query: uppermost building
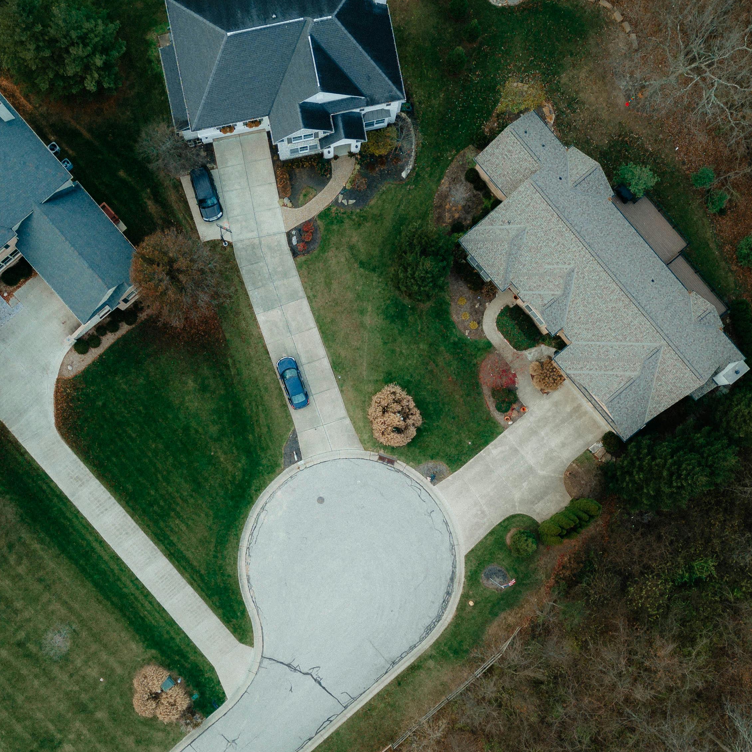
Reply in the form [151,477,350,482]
[159,0,406,158]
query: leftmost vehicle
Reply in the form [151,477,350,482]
[188,165,222,223]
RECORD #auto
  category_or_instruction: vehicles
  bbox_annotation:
[278,356,310,411]
[188,165,222,223]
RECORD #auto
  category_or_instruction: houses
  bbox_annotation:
[159,0,406,158]
[459,110,750,444]
[0,91,152,346]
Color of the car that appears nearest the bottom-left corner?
blue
